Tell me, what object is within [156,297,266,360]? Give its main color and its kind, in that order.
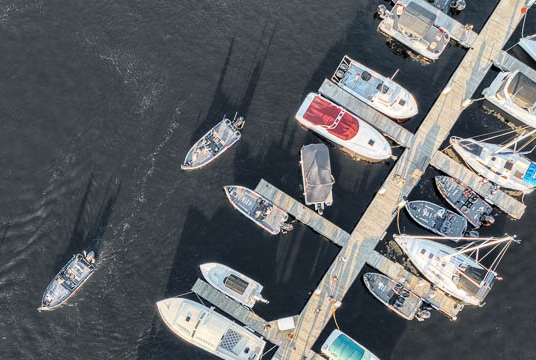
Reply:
white boat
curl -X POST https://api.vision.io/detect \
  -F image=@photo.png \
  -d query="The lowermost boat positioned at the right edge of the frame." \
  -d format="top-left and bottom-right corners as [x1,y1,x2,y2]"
[395,232,515,301]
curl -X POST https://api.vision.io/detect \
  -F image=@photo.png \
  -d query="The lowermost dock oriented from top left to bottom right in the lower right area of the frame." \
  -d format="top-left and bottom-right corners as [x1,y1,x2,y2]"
[365,249,463,320]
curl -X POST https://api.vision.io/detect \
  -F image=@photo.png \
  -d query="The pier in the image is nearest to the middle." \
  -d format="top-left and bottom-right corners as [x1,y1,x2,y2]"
[254,177,349,246]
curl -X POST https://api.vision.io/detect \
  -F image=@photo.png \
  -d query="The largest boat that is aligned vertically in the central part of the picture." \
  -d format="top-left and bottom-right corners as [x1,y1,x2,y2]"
[300,143,333,213]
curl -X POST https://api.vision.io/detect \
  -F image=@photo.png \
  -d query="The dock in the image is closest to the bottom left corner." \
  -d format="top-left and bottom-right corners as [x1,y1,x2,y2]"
[191,277,286,344]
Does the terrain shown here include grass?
No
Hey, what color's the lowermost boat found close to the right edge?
white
